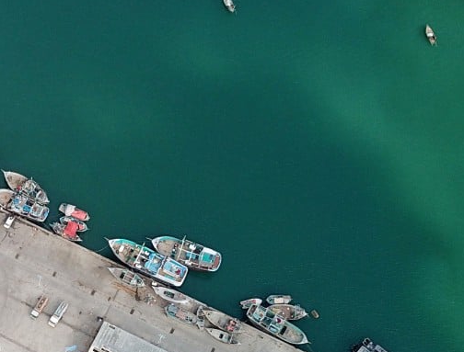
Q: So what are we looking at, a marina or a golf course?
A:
marina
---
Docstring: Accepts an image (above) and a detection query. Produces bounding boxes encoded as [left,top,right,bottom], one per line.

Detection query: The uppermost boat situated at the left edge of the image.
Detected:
[0,166,49,206]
